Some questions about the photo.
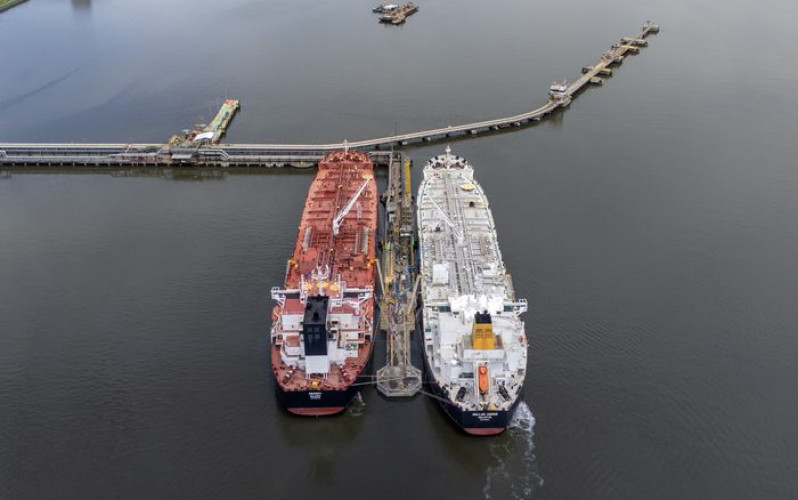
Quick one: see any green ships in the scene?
No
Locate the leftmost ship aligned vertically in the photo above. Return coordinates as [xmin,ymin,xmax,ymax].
[267,141,377,417]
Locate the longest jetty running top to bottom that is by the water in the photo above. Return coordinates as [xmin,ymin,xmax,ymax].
[376,150,420,393]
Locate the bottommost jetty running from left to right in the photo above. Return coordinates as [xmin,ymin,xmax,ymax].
[0,135,389,168]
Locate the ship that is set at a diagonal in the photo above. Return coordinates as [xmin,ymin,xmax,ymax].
[392,0,420,25]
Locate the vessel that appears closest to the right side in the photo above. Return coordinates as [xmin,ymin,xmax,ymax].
[418,146,531,437]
